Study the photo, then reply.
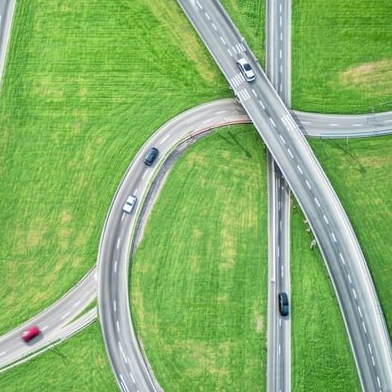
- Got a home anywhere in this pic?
No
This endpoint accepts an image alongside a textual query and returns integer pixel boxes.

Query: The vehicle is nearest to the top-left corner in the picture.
[142,145,160,167]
